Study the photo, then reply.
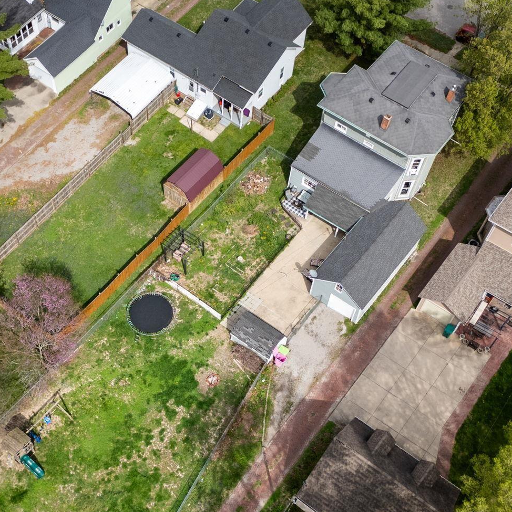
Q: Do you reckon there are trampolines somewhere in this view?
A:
Yes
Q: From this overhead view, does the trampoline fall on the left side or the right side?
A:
left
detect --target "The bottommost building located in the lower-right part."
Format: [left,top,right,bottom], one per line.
[294,417,459,512]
